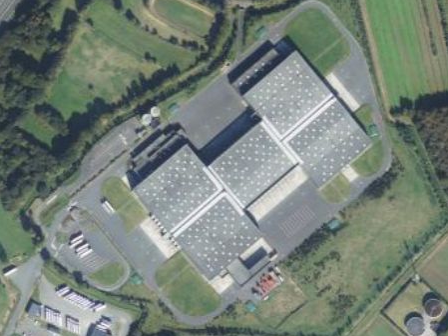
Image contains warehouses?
Yes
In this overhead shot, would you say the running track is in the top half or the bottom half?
top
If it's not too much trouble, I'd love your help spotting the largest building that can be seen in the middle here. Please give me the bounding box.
[133,51,372,281]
